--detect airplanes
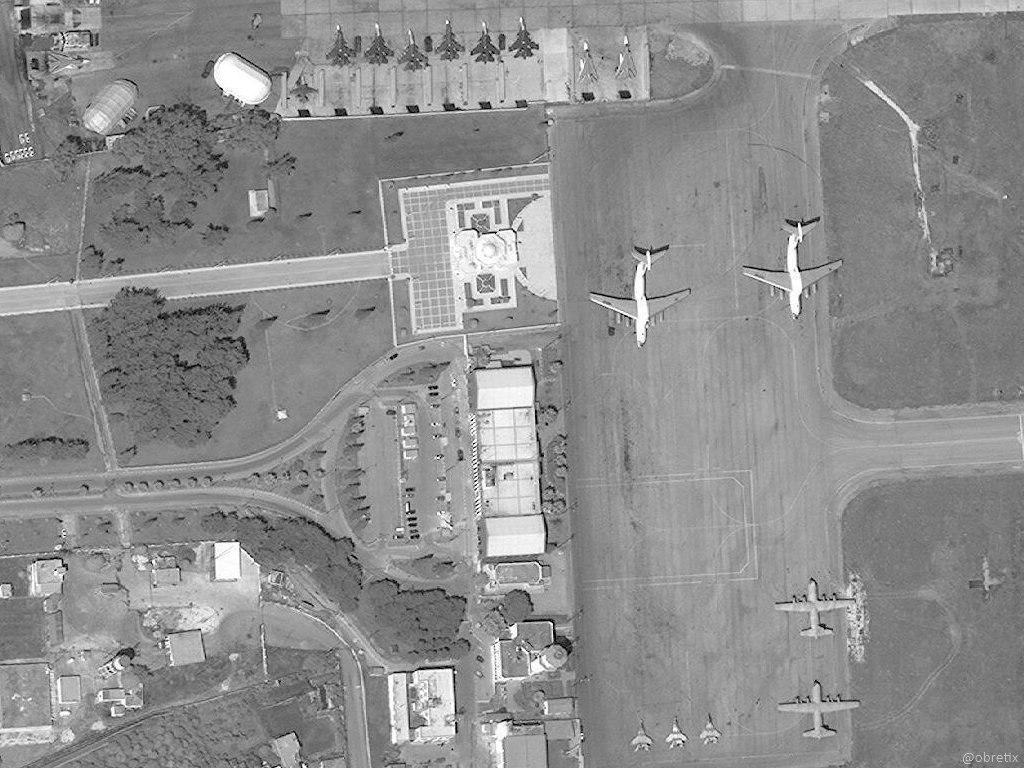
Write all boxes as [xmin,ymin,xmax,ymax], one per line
[434,21,463,62]
[742,221,843,318]
[666,717,689,750]
[775,580,856,638]
[397,29,426,71]
[363,23,393,65]
[471,22,500,63]
[984,559,1005,598]
[325,26,355,68]
[631,719,654,753]
[509,17,538,60]
[572,41,602,82]
[700,716,723,747]
[288,75,319,102]
[612,36,643,78]
[588,250,690,347]
[778,682,859,740]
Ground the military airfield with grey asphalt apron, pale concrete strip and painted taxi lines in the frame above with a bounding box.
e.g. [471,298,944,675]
[276,0,1024,768]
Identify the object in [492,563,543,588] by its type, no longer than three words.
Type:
building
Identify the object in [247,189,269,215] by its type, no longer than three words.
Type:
shed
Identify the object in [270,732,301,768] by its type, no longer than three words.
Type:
house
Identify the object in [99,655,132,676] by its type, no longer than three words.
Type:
water tower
